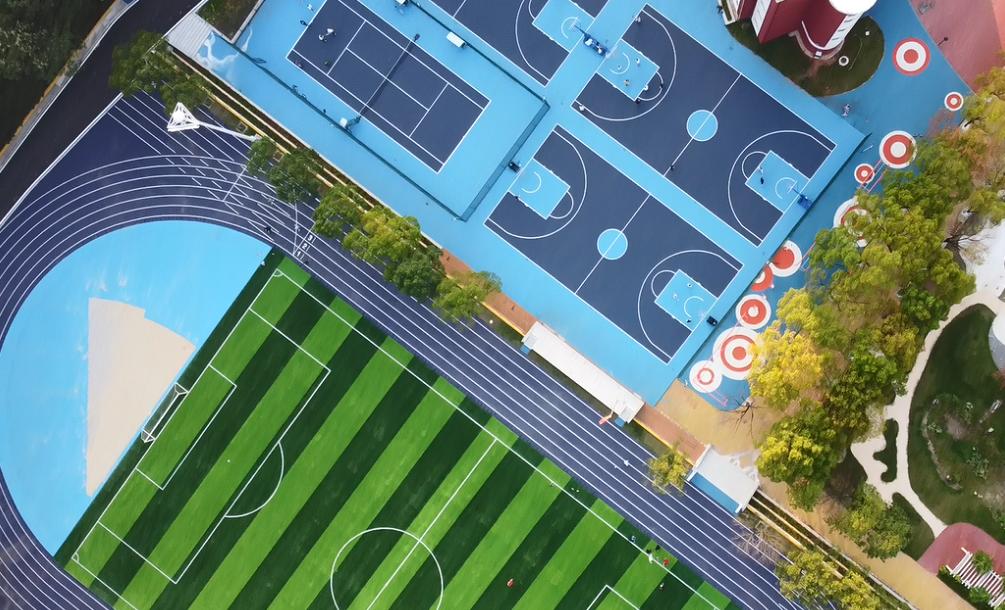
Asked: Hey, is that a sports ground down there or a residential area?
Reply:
sports ground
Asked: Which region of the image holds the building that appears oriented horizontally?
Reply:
top right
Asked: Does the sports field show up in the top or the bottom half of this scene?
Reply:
bottom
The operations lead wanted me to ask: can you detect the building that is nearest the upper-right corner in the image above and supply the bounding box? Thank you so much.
[732,0,874,58]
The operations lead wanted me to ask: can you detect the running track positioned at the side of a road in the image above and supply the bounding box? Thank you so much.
[0,79,862,610]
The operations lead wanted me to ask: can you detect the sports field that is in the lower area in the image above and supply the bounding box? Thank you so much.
[54,248,743,610]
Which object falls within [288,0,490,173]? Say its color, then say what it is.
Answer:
blue tennis court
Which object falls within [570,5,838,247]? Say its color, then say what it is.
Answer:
blue basketball court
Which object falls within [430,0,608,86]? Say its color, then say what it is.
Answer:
blue basketball court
